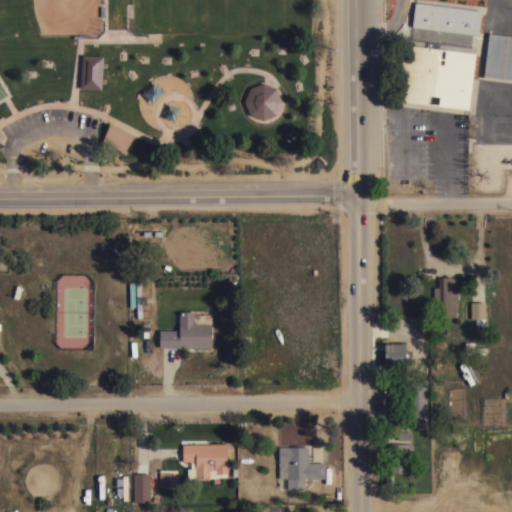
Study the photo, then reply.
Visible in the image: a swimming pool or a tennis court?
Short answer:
tennis court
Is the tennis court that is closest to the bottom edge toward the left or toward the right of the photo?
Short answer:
left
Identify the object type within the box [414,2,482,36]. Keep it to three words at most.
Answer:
building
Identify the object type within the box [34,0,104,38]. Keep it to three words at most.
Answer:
baseball field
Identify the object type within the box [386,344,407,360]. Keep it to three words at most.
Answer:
house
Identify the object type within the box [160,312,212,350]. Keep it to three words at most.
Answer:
house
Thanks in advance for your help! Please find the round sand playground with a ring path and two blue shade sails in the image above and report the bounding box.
[139,75,199,134]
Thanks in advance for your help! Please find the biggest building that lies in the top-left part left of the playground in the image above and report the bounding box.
[78,56,104,90]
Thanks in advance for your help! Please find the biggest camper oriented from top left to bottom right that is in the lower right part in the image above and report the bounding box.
[459,364,476,386]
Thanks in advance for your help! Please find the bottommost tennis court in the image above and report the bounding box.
[56,275,94,349]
